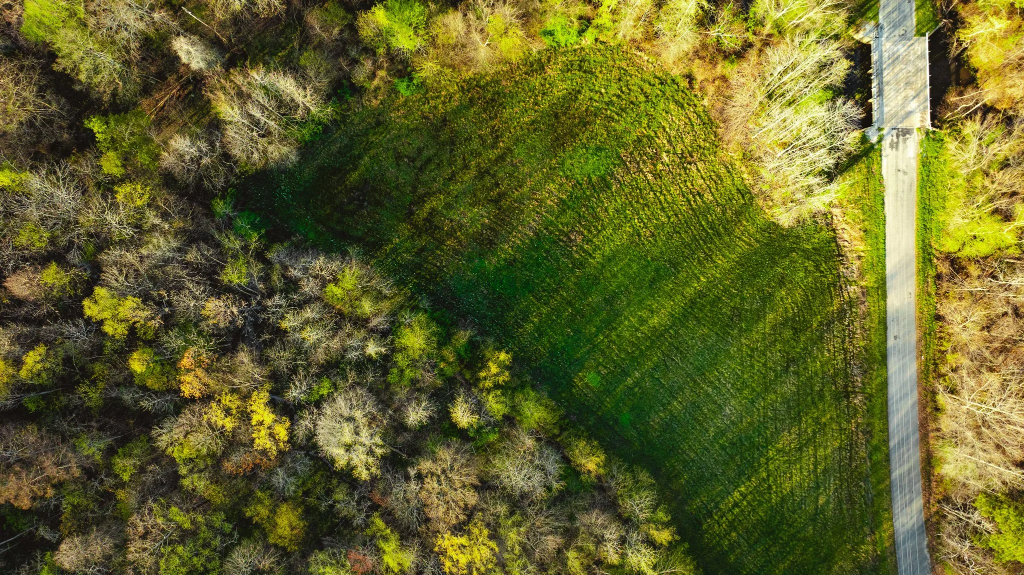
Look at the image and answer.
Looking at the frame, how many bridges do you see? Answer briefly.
1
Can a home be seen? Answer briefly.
No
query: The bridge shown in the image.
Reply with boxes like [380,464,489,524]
[853,22,943,133]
